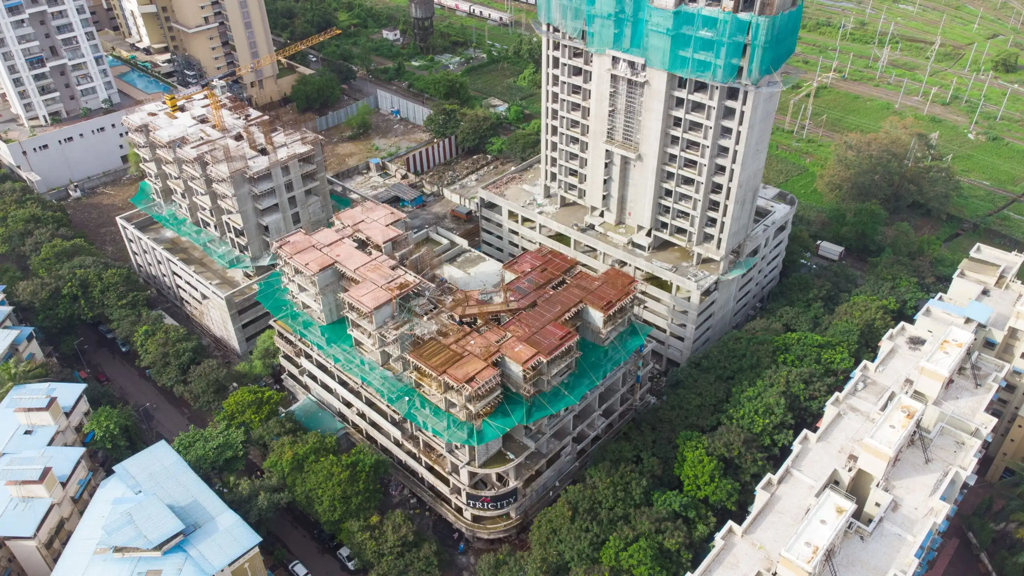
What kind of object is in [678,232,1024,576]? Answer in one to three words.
building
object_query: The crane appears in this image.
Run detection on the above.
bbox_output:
[155,24,343,131]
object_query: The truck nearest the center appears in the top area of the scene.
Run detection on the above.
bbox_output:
[448,202,478,225]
